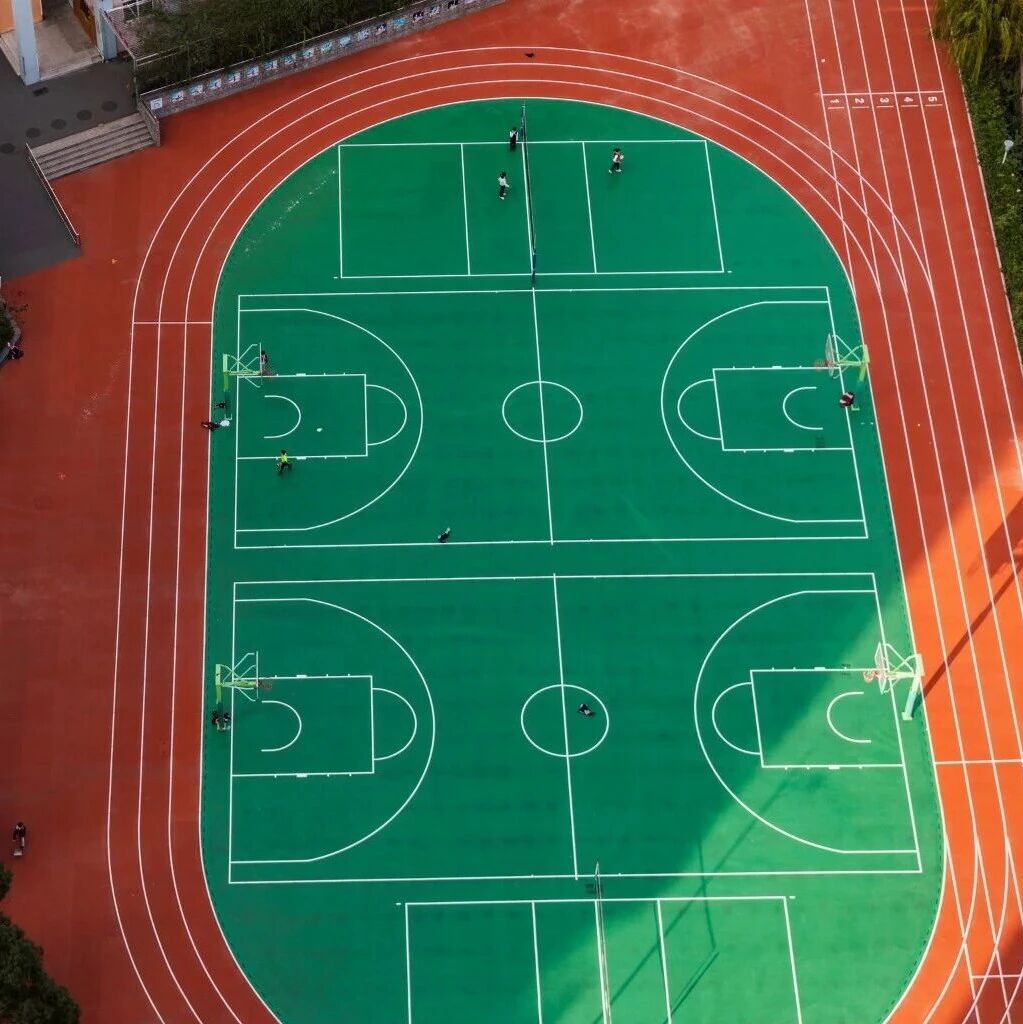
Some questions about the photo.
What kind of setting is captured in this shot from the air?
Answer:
sports ground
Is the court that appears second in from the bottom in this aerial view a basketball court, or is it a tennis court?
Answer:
basketball court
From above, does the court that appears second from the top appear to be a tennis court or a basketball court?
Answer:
basketball court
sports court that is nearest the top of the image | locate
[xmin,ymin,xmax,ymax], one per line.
[332,139,732,278]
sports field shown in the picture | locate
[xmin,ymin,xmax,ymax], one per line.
[202,97,943,1024]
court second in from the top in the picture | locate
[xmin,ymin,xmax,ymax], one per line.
[234,286,868,548]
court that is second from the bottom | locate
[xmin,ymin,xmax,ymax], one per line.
[229,572,923,883]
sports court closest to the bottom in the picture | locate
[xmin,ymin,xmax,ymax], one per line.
[395,896,802,1024]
